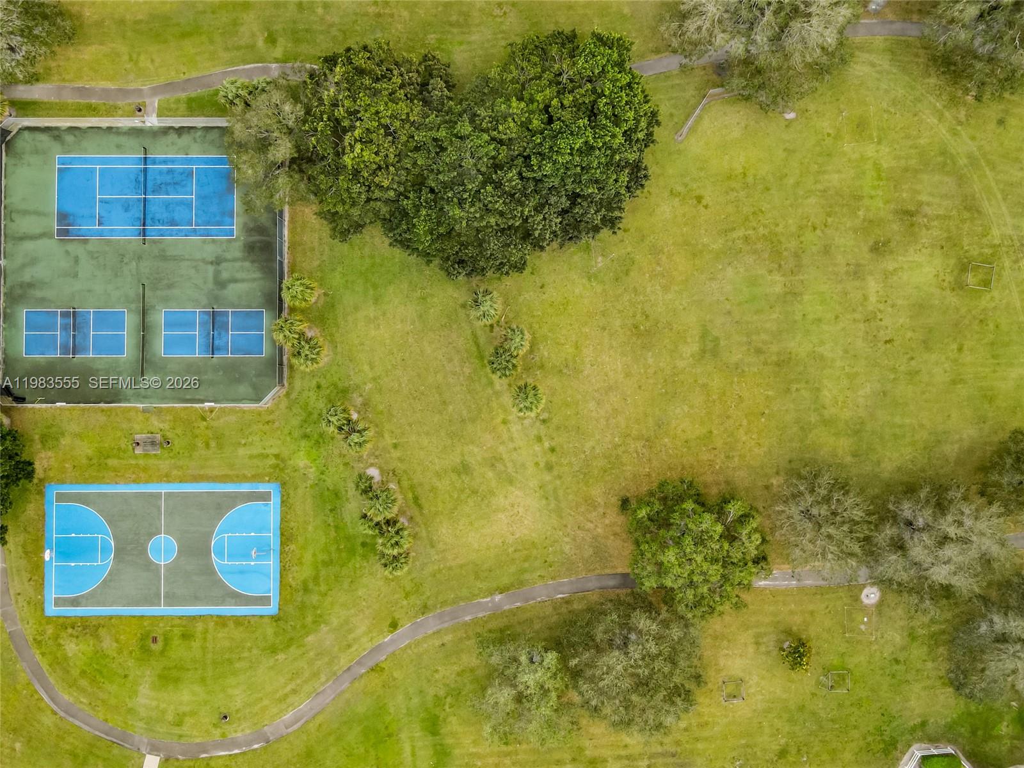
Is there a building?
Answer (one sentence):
No, the scene contains no building.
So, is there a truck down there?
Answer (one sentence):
No, the scene contains no truck.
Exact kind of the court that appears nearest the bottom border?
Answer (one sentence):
It looks like the court that appears nearest the bottom border is a basketball court.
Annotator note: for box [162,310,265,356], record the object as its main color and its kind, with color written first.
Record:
blue sports court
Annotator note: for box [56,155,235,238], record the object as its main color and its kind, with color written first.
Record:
blue tennis court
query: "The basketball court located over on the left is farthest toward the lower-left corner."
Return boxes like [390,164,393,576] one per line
[45,484,279,615]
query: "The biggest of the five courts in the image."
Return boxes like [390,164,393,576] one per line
[1,123,288,408]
